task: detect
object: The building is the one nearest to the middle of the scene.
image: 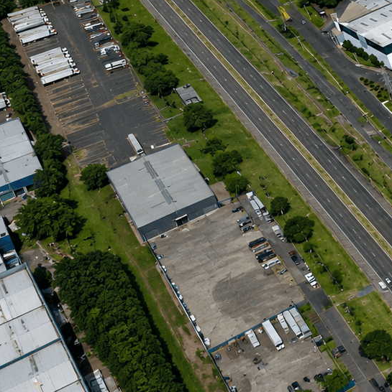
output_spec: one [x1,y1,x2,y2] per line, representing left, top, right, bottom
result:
[107,143,219,241]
